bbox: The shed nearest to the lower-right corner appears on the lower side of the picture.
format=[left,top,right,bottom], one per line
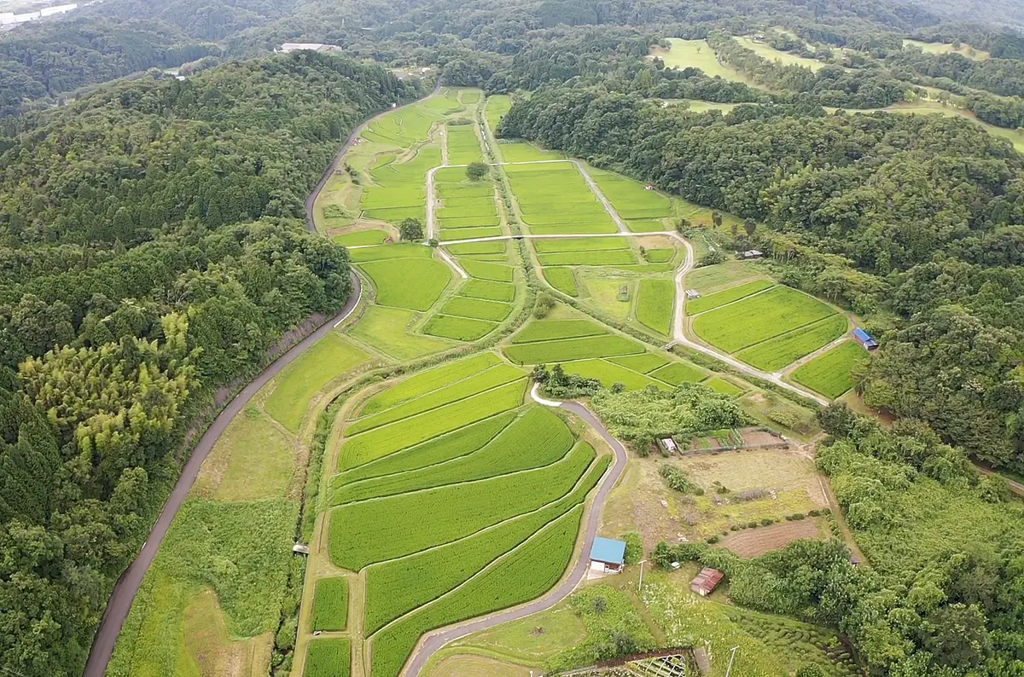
[692,566,722,596]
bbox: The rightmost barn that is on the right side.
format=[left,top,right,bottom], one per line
[849,327,879,353]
